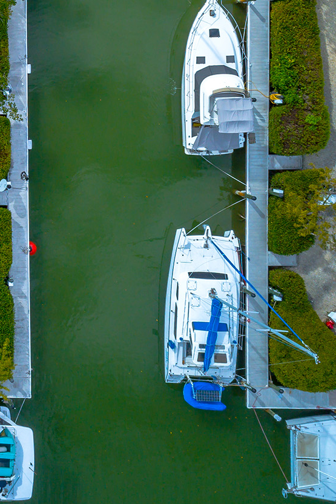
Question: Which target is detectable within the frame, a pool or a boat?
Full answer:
Of the two, only a boat appears.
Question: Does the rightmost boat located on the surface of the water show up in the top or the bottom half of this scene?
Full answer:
It is in the bottom half that the rightmost boat located on the surface of the water appears.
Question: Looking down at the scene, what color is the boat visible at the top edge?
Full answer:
From above, the boat visible at the top edge appears white.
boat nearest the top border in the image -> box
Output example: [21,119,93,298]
[176,0,254,155]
